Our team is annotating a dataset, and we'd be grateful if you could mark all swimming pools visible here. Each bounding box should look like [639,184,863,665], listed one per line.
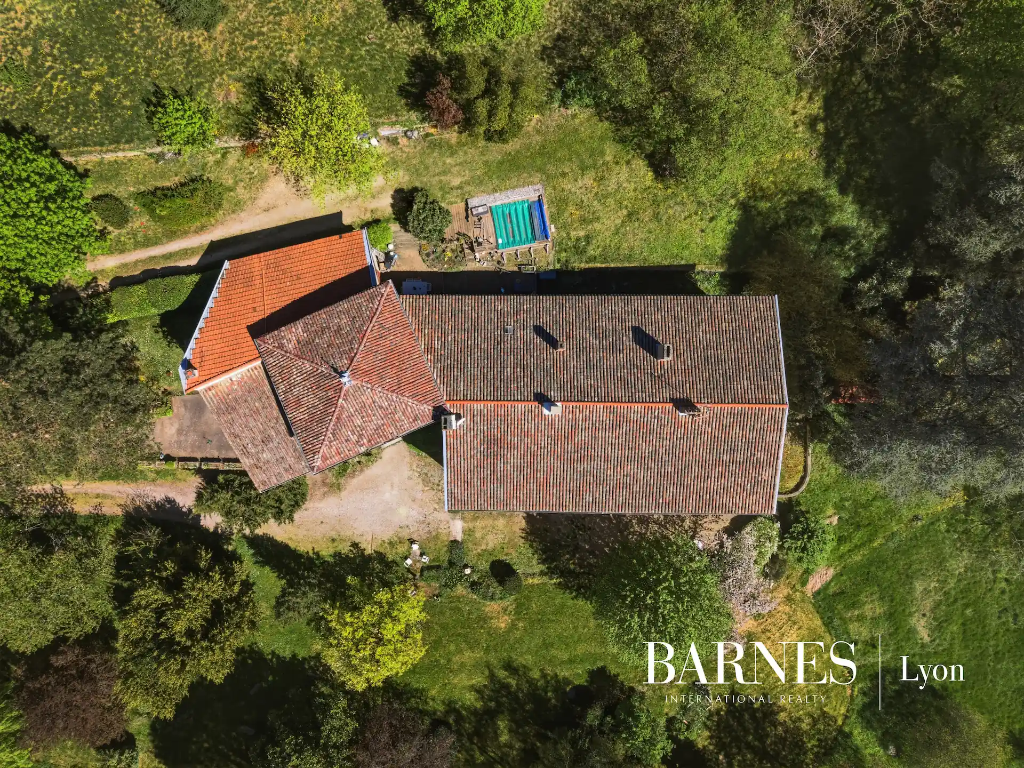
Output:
[488,193,554,262]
